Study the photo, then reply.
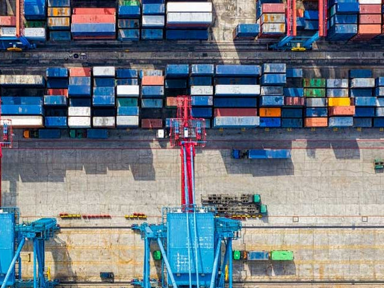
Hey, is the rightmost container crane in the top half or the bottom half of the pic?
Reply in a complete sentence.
The top half of the photo is where the rightmost container crane is.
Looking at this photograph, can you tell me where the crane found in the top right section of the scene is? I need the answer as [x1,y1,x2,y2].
[261,0,330,52]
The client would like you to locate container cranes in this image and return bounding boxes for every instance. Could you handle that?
[261,0,330,52]
[0,96,69,288]
[0,0,44,52]
[134,96,242,288]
